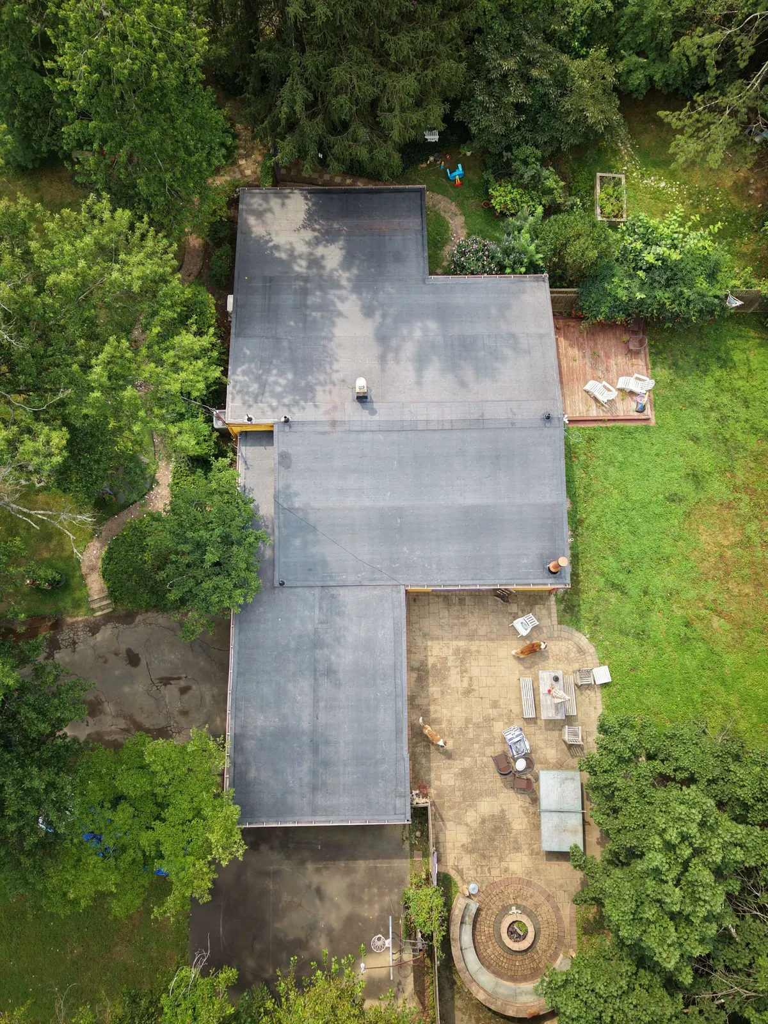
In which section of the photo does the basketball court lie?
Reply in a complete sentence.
The basketball court is in the bottom part of the image.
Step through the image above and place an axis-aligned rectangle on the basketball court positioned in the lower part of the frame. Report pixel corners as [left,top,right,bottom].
[189,800,416,1024]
